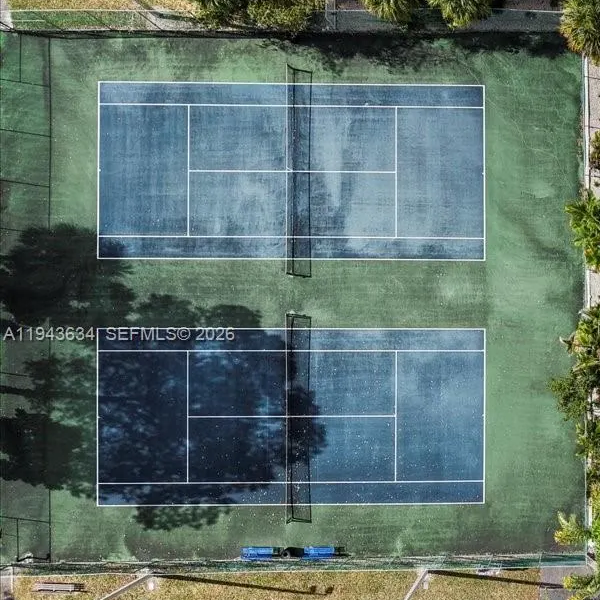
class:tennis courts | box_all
[96,312,485,526]
[97,62,485,275]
